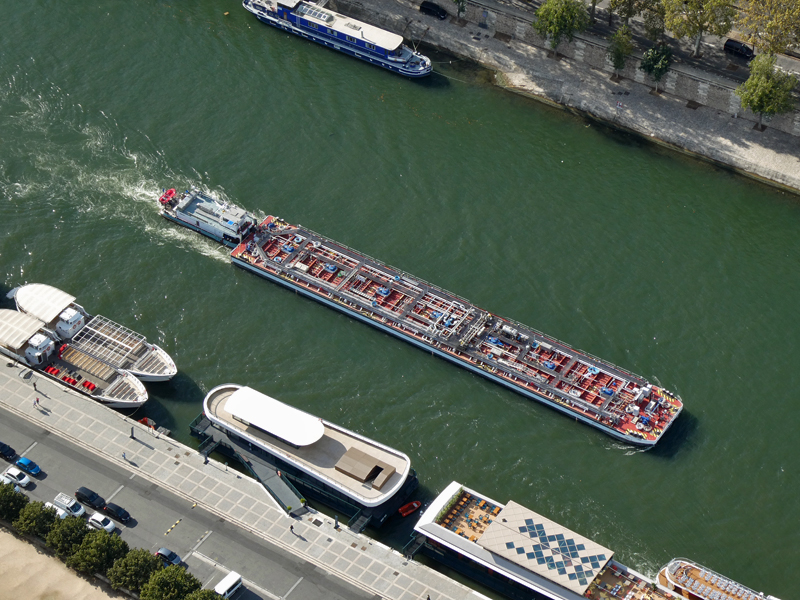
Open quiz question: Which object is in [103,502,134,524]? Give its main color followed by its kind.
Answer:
black car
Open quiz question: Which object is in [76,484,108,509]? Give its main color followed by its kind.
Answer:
black car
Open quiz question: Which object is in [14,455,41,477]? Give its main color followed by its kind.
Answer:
blue car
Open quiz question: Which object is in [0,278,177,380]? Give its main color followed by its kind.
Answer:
white boat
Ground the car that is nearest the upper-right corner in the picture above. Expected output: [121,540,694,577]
[724,40,752,59]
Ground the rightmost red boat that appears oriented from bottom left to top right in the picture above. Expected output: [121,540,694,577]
[399,502,420,518]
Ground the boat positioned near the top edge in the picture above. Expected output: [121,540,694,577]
[245,0,434,84]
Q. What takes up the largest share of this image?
water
